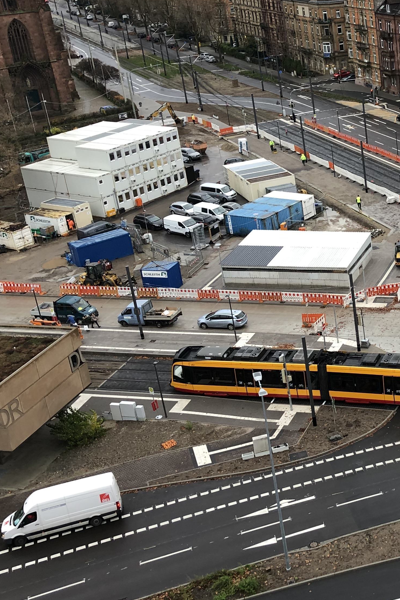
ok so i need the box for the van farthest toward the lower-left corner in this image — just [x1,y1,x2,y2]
[0,470,124,548]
